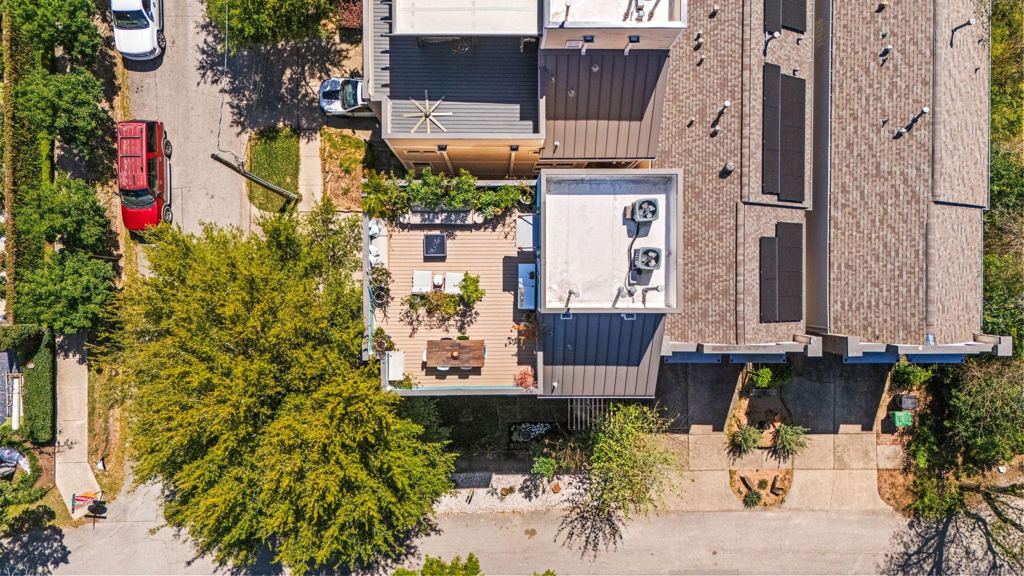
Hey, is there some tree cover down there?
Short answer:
Yes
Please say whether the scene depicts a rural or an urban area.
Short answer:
urban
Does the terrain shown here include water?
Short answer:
No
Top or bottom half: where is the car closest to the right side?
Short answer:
top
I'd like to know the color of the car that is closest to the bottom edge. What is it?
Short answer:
red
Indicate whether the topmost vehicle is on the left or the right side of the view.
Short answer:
left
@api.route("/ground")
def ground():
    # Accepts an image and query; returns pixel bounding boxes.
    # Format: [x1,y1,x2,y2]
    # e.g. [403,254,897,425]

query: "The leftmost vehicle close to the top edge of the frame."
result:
[111,0,170,59]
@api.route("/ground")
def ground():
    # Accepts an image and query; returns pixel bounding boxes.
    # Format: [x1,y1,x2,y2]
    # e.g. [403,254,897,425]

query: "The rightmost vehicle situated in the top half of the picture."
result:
[319,70,379,119]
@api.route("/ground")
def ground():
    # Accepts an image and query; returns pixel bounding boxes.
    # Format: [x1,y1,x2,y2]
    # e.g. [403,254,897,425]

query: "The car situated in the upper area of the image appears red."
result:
[117,126,175,231]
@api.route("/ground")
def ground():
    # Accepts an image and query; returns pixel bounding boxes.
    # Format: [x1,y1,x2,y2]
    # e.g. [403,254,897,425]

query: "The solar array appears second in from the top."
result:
[764,61,805,203]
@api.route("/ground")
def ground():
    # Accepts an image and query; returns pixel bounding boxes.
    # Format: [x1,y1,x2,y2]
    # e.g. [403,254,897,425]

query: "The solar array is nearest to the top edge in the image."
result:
[765,0,806,37]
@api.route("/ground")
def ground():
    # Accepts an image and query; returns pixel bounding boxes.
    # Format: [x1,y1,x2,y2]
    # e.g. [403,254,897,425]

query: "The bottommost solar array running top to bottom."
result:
[760,222,802,322]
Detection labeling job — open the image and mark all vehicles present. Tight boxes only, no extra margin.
[319,70,379,119]
[117,126,175,231]
[111,0,170,59]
